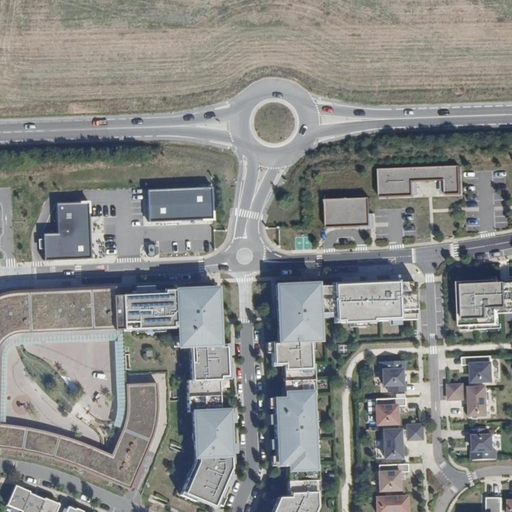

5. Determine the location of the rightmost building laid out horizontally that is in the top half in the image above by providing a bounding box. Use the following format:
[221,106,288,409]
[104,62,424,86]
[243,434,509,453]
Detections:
[376,166,462,197]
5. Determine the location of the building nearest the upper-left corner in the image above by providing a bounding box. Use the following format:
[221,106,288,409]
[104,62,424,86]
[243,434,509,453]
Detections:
[38,200,92,260]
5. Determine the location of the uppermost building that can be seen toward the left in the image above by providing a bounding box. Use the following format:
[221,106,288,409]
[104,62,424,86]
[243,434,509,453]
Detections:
[148,186,216,223]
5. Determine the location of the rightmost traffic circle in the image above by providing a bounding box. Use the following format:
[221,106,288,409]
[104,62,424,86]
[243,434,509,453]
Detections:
[250,98,299,148]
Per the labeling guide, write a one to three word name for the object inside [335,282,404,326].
building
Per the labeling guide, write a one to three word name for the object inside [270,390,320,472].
building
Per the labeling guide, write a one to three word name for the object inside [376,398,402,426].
house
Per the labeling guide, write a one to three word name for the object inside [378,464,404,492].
house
